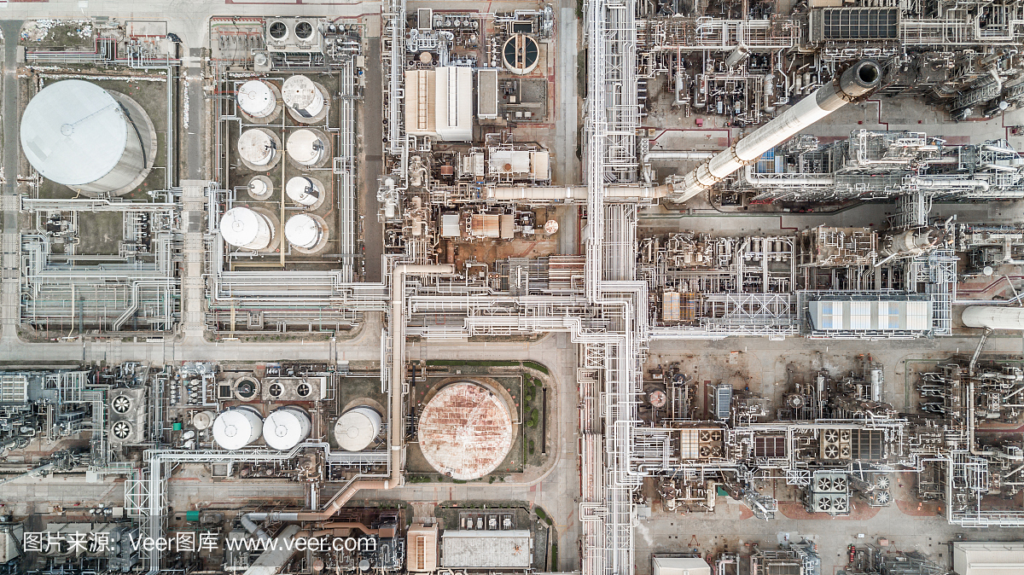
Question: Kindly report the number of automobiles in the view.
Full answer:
I count no automobiles.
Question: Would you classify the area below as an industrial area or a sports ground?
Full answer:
It's an industrial area.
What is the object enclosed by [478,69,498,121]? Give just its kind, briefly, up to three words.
building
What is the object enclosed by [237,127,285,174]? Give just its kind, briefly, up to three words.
storage tank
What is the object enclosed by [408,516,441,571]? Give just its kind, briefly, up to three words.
building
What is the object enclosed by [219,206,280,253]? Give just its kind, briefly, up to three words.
storage tank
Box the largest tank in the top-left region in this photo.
[18,78,157,198]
